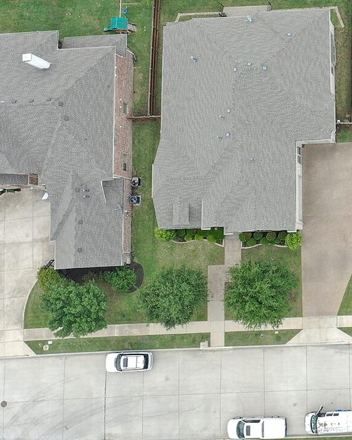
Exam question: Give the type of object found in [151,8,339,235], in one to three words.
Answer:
house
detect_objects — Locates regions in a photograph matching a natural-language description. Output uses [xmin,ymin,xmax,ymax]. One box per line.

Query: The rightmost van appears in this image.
[305,402,352,438]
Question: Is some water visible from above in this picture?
No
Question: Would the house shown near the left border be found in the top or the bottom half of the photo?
top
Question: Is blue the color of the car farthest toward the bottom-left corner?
No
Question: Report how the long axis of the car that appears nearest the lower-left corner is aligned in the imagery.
from side to side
